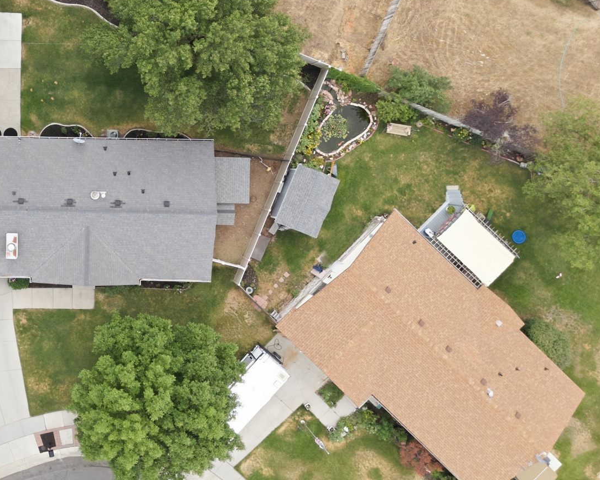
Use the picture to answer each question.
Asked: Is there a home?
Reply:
Yes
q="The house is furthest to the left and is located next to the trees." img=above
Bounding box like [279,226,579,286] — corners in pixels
[0,134,218,287]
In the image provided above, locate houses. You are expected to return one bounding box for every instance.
[0,134,218,287]
[268,207,587,480]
